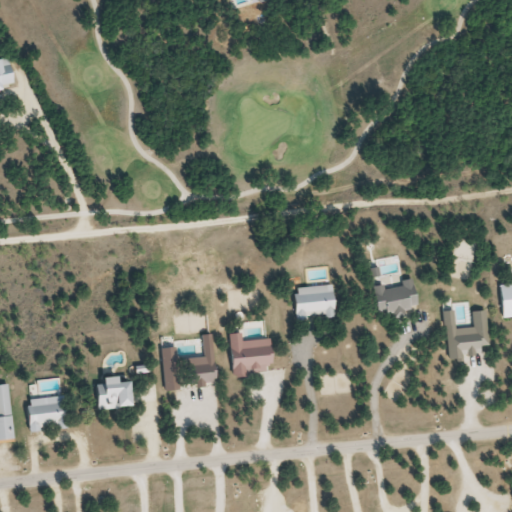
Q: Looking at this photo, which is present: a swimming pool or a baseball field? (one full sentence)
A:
Of the two, only a swimming pool appears.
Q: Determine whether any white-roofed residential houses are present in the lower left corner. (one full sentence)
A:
Yes, in the lower left corner there is a white-roofed residential house.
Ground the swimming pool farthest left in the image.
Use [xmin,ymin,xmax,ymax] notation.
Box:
[29,378,60,396]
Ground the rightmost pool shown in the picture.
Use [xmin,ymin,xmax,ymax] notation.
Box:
[451,302,471,326]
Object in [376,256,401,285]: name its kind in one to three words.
swimming pool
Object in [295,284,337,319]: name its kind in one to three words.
house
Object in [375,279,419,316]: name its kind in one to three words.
house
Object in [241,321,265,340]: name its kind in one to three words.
swimming pool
